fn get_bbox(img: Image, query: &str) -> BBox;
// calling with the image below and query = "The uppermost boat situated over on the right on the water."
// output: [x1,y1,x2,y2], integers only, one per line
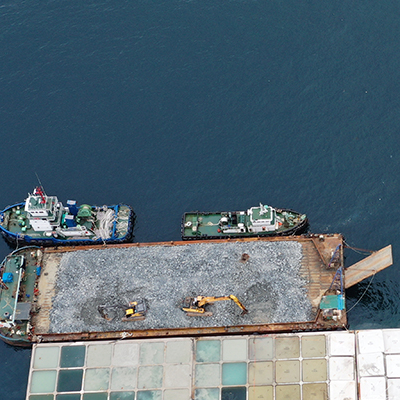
[180,202,309,240]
